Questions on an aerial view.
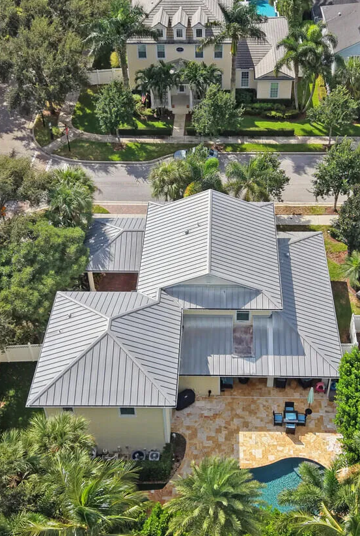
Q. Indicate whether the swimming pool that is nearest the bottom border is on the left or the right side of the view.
right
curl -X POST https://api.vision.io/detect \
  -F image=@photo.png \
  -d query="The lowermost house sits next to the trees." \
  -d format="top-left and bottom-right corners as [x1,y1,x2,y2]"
[25,190,346,452]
